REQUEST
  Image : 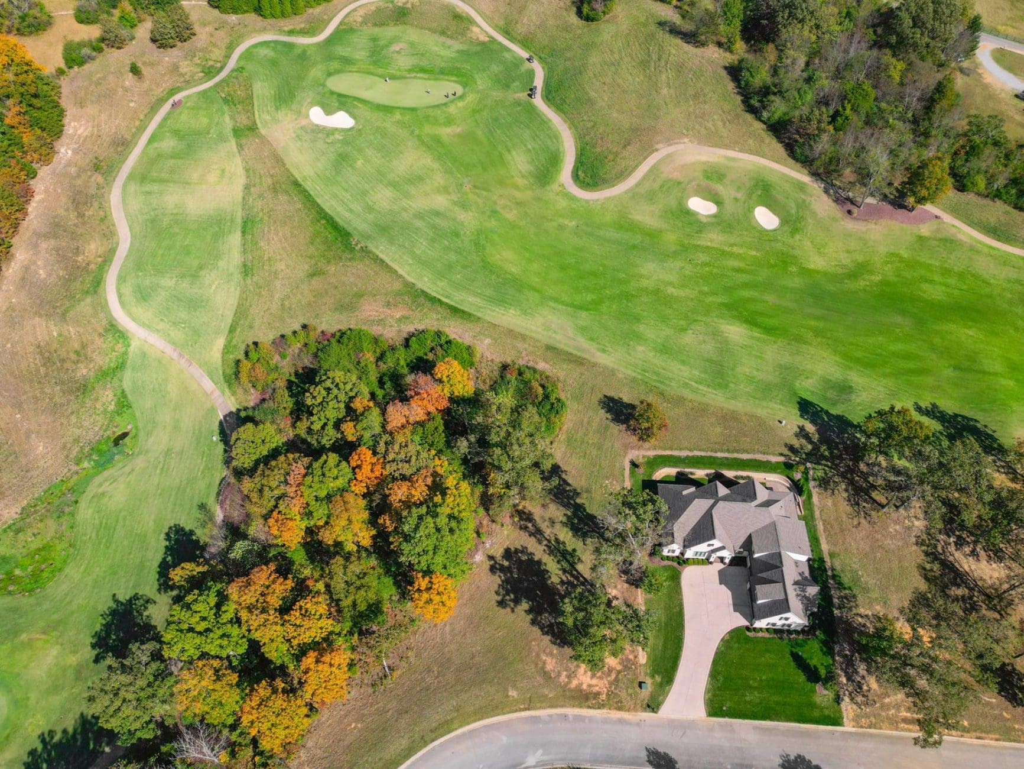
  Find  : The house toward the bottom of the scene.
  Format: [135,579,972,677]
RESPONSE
[657,477,820,631]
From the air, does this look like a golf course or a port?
golf course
